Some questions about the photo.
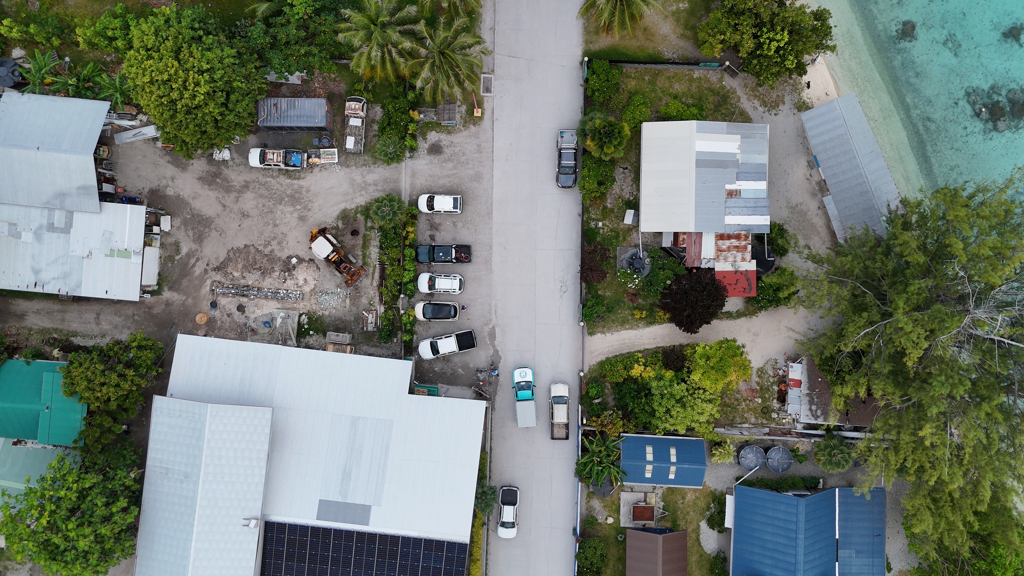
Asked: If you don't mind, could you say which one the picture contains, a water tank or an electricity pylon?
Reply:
water tank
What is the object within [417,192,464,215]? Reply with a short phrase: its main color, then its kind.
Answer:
white car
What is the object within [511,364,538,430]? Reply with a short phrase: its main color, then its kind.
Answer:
white truck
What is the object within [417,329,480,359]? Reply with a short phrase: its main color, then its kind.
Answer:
white truck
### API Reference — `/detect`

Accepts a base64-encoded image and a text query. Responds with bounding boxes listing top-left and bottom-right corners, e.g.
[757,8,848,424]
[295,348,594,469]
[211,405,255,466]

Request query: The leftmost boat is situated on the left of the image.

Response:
[94,145,113,159]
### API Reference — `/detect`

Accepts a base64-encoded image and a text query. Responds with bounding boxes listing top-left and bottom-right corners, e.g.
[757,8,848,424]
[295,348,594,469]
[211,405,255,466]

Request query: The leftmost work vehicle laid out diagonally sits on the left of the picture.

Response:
[306,231,374,294]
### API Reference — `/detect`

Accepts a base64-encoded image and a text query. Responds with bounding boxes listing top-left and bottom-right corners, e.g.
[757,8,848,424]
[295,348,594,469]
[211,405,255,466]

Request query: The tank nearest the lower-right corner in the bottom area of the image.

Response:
[759,442,792,472]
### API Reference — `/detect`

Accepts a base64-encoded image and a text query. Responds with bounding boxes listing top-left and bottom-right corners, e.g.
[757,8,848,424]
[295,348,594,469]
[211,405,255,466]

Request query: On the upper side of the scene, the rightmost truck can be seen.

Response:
[554,130,578,193]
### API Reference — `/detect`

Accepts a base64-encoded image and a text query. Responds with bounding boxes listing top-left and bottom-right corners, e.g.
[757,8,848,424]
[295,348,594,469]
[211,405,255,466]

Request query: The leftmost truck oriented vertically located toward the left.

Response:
[341,96,367,154]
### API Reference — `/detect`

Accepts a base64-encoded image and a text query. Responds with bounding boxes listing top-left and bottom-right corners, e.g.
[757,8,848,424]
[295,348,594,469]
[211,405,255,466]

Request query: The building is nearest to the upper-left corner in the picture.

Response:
[0,93,110,214]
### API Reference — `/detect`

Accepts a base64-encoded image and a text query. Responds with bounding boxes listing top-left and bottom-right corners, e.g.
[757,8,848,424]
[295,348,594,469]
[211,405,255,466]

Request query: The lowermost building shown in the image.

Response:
[626,529,687,576]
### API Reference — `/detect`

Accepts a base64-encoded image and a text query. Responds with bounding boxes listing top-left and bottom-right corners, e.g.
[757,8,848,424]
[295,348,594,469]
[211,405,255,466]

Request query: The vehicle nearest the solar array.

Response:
[495,480,520,539]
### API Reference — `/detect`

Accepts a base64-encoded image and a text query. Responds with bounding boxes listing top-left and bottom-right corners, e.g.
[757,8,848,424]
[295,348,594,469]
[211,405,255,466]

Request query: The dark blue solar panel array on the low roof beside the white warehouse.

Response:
[261,525,468,576]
